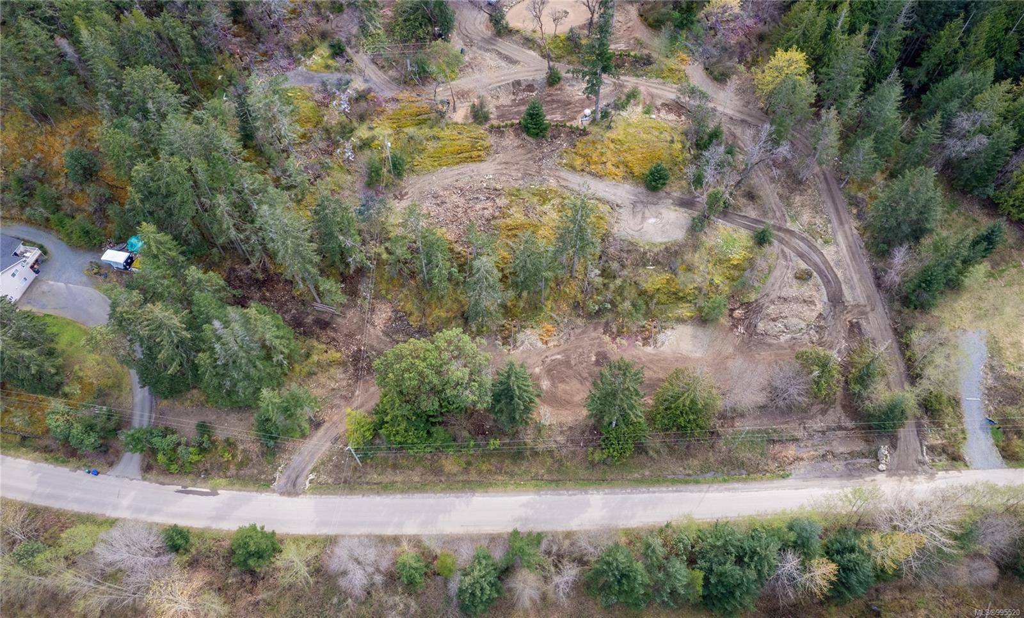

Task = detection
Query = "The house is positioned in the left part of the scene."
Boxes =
[0,238,48,311]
